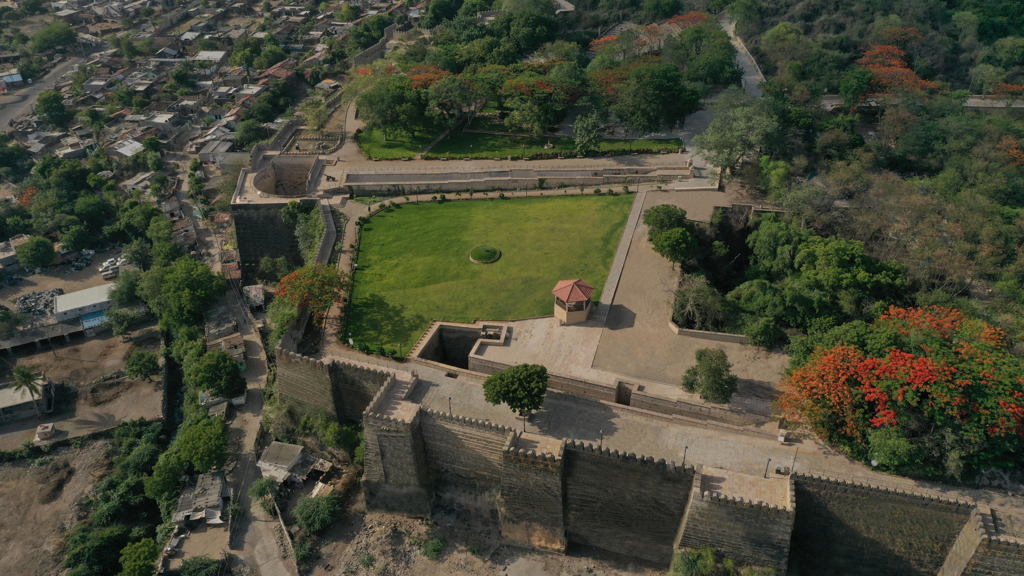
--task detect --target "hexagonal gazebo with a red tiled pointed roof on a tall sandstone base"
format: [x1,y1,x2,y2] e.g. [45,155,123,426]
[552,278,609,325]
